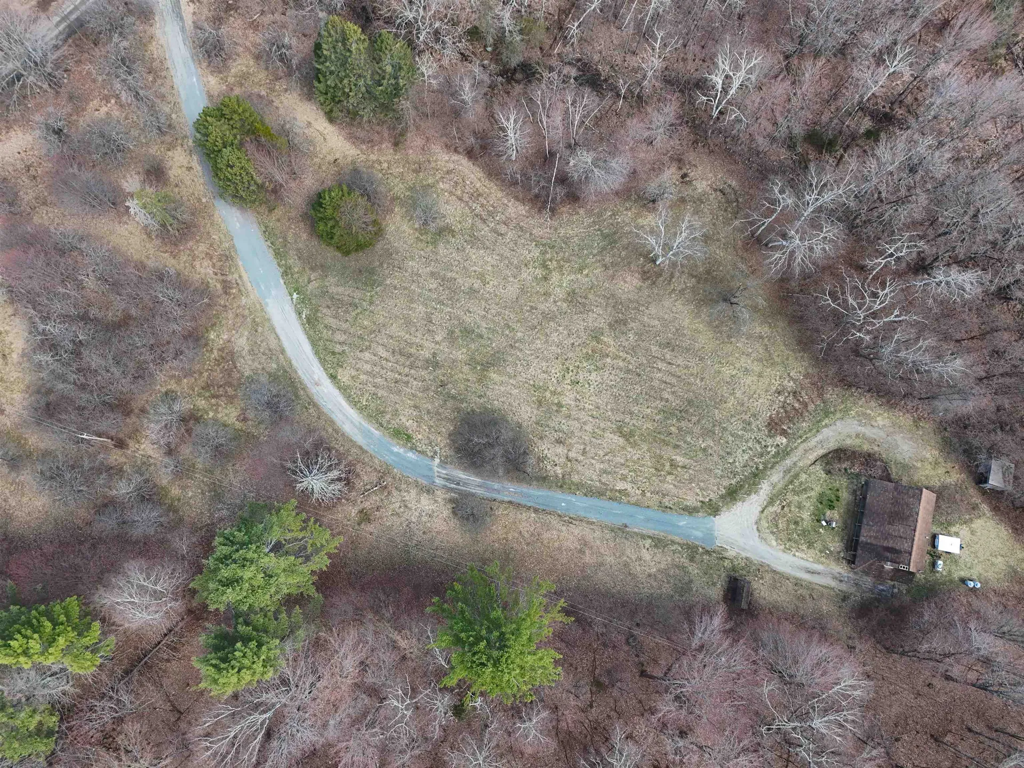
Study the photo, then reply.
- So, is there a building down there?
Yes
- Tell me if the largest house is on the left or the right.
right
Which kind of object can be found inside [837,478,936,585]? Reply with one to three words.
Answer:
house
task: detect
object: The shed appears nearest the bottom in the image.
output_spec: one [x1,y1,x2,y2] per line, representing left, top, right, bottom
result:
[726,573,751,610]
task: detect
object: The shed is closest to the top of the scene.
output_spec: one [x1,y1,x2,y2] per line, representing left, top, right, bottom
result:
[964,460,1014,488]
